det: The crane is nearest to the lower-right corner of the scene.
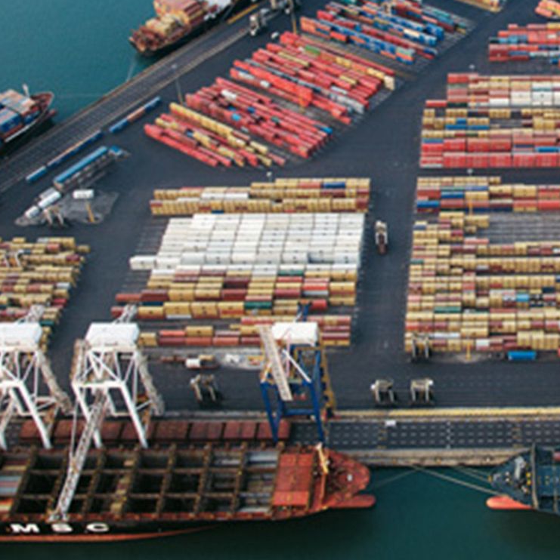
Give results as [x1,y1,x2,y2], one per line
[251,300,345,446]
